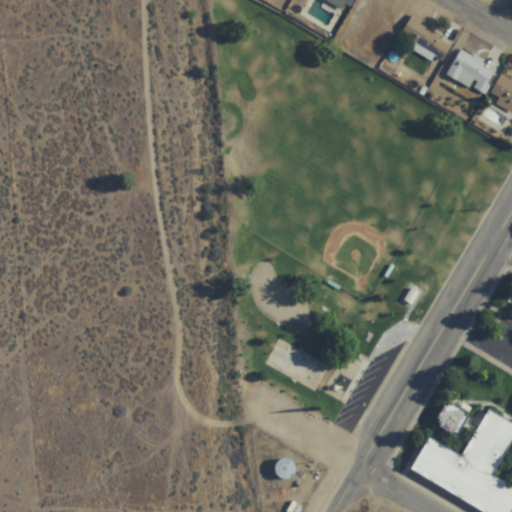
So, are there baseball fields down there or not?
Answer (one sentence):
Yes, a baseball field can be made out from above.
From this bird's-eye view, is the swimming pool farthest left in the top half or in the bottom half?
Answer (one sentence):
It is in the top half that the swimming pool farthest left appears.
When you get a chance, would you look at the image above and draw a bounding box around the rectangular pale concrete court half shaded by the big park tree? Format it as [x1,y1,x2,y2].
[266,338,326,390]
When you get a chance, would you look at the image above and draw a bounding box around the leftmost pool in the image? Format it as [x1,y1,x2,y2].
[300,0,338,33]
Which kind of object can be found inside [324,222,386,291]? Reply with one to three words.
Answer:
baseball field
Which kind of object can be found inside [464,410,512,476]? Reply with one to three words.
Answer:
building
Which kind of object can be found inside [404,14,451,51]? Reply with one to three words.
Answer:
house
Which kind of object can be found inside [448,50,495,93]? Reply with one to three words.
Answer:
house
